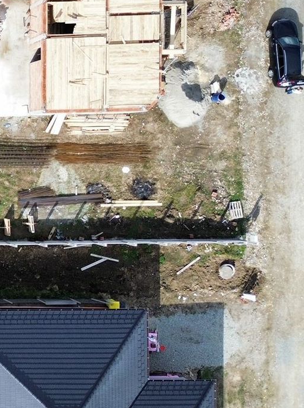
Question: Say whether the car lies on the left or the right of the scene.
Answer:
right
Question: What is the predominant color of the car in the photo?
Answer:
black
